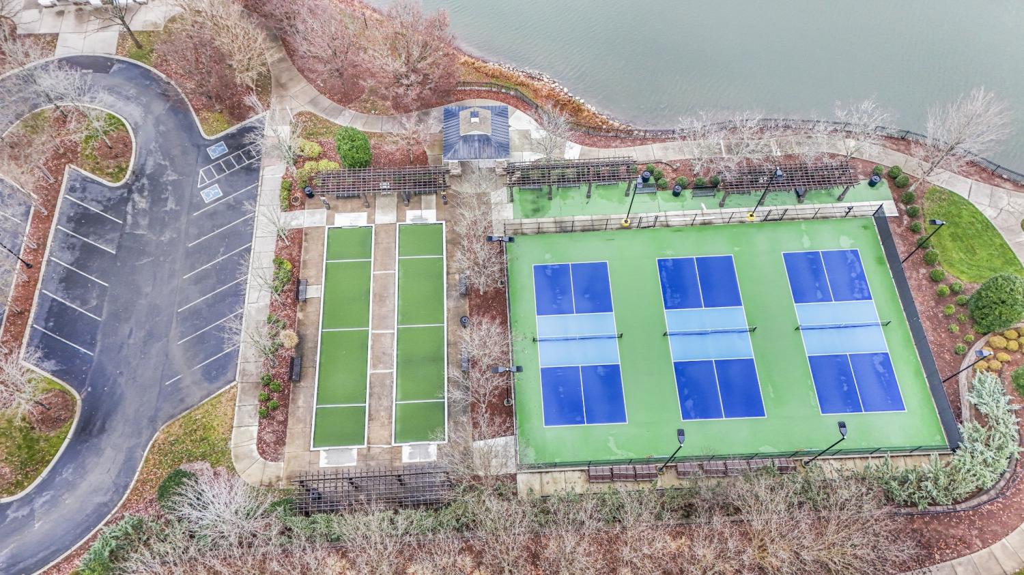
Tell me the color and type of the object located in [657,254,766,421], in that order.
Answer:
blue sports court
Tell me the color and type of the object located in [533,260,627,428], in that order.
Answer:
blue sports court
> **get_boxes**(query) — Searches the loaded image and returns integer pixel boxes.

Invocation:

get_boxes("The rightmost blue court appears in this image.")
[782,248,906,414]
